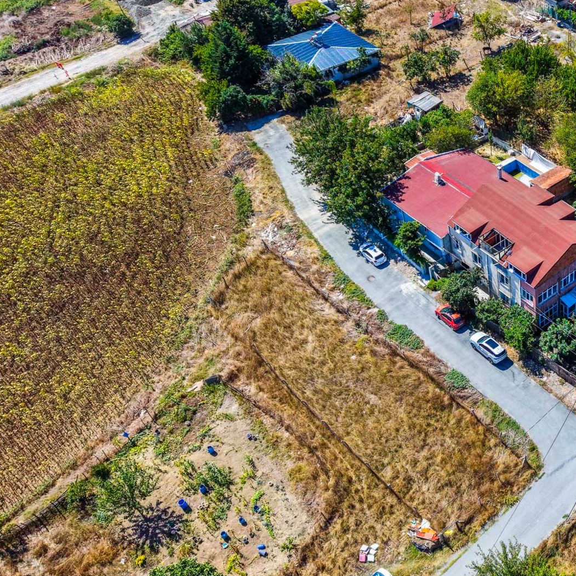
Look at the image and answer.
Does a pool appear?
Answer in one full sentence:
Yes, the photo shows a pool.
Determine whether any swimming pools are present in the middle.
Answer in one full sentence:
No, no swimming pool appears in the middle.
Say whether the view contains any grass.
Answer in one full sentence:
Yes, some grass is visible.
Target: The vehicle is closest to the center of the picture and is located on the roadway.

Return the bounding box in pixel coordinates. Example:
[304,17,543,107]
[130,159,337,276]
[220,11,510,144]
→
[358,241,392,267]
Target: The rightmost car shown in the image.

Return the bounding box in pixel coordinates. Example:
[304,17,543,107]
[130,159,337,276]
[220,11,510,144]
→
[467,329,510,364]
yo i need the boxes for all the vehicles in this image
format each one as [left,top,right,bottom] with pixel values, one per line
[370,565,393,576]
[434,303,470,332]
[358,241,392,267]
[467,329,510,364]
